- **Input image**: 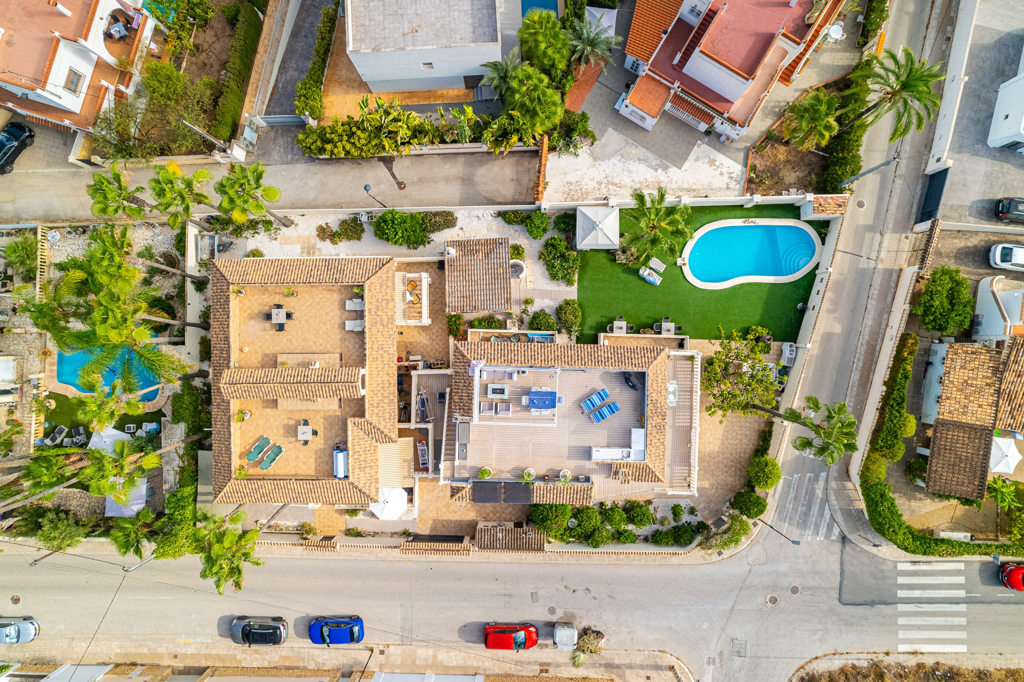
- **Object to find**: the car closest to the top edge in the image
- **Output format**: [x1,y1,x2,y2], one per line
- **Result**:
[0,119,34,175]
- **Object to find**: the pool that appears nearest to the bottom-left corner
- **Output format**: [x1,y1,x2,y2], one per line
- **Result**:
[48,324,170,411]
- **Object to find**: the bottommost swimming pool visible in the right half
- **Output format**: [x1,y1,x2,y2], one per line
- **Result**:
[681,218,823,289]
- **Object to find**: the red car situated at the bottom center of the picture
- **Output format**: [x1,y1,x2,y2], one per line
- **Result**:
[483,620,538,652]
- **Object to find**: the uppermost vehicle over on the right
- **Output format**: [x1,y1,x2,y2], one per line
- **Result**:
[989,198,1024,224]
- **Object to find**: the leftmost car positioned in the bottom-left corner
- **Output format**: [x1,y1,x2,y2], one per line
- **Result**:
[0,615,37,646]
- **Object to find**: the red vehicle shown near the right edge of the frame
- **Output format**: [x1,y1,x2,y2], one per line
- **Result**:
[997,563,1024,594]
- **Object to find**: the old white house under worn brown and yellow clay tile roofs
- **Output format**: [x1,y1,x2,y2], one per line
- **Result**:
[907,333,1024,501]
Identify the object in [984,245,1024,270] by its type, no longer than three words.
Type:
car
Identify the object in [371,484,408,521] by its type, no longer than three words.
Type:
umbrella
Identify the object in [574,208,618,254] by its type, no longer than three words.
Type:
gazebo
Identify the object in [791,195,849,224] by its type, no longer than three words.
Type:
building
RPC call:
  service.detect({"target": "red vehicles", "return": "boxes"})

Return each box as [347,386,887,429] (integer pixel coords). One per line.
[997,563,1024,594]
[483,620,538,652]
